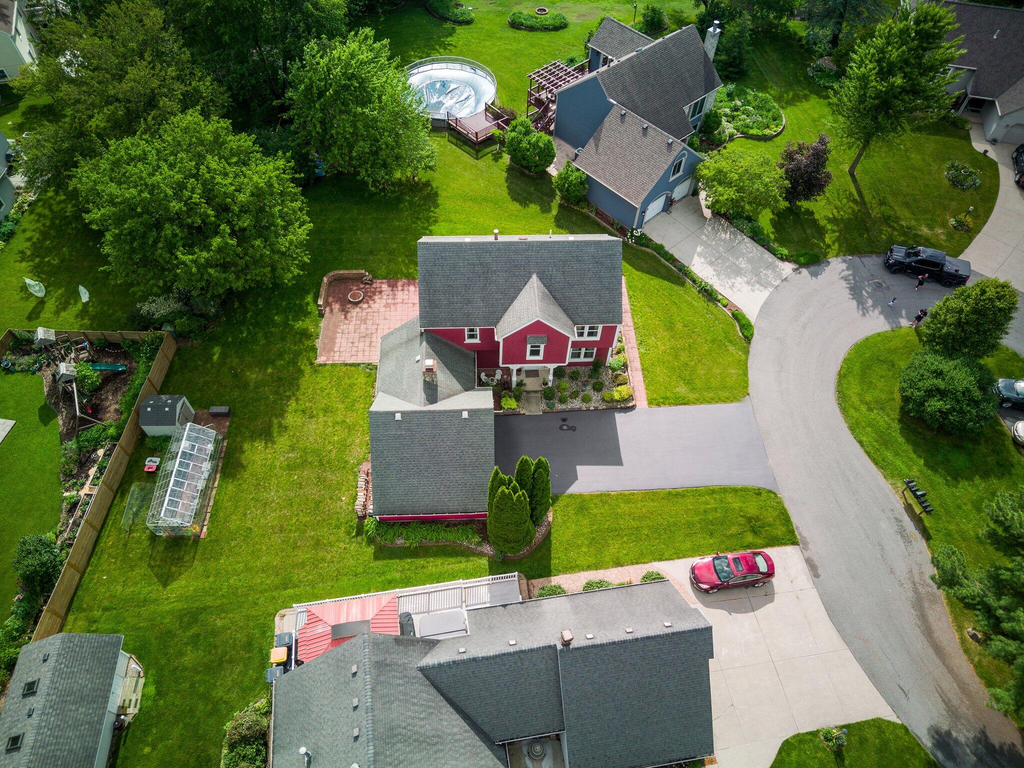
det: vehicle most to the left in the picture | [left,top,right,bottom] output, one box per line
[691,552,780,594]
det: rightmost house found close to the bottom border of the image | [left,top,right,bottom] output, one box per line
[270,579,714,768]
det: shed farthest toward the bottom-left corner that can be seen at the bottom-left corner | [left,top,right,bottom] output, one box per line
[0,633,130,768]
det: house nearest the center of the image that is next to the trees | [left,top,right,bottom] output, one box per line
[370,229,623,524]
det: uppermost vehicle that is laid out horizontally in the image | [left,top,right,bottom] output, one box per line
[887,244,974,288]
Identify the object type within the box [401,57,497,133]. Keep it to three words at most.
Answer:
swimming pool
